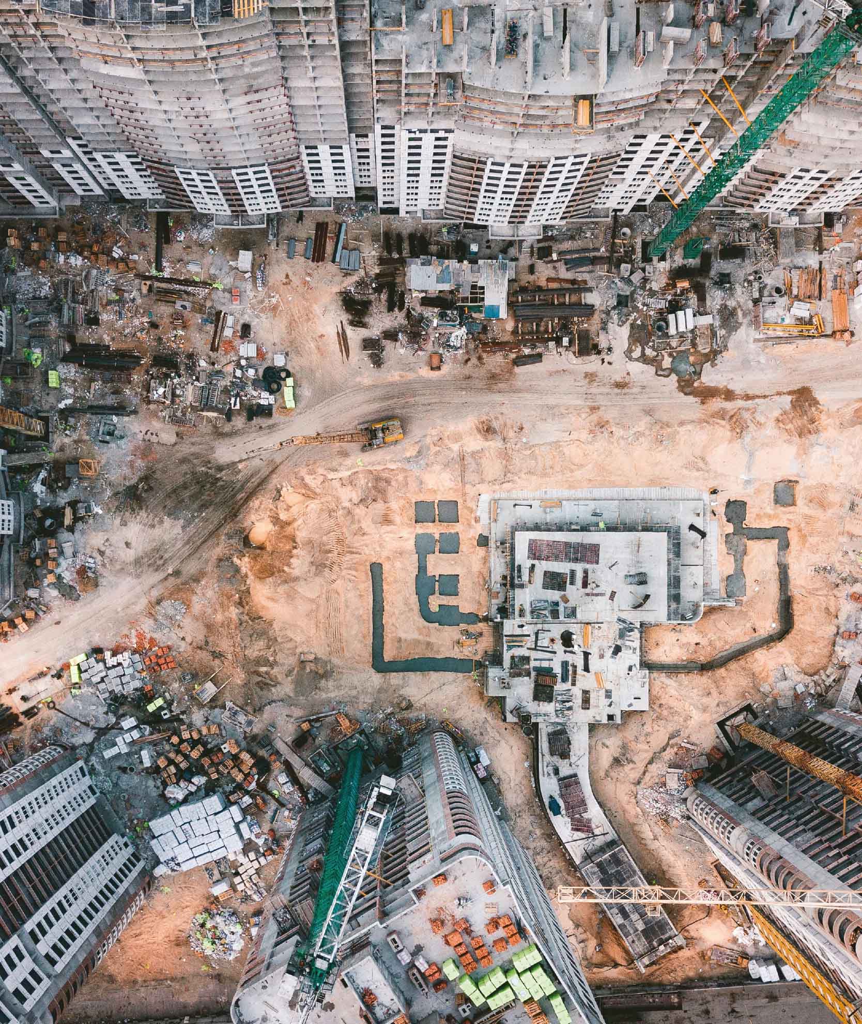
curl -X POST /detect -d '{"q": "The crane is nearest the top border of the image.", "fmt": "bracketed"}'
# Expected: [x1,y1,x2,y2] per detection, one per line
[650,0,862,265]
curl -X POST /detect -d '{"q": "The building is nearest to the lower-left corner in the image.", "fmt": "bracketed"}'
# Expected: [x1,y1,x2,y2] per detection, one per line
[0,745,154,1024]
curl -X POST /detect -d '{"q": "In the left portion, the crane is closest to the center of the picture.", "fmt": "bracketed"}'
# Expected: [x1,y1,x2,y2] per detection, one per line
[237,417,411,450]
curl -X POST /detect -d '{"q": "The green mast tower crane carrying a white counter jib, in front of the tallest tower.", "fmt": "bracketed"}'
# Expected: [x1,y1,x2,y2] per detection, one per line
[280,729,407,1024]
